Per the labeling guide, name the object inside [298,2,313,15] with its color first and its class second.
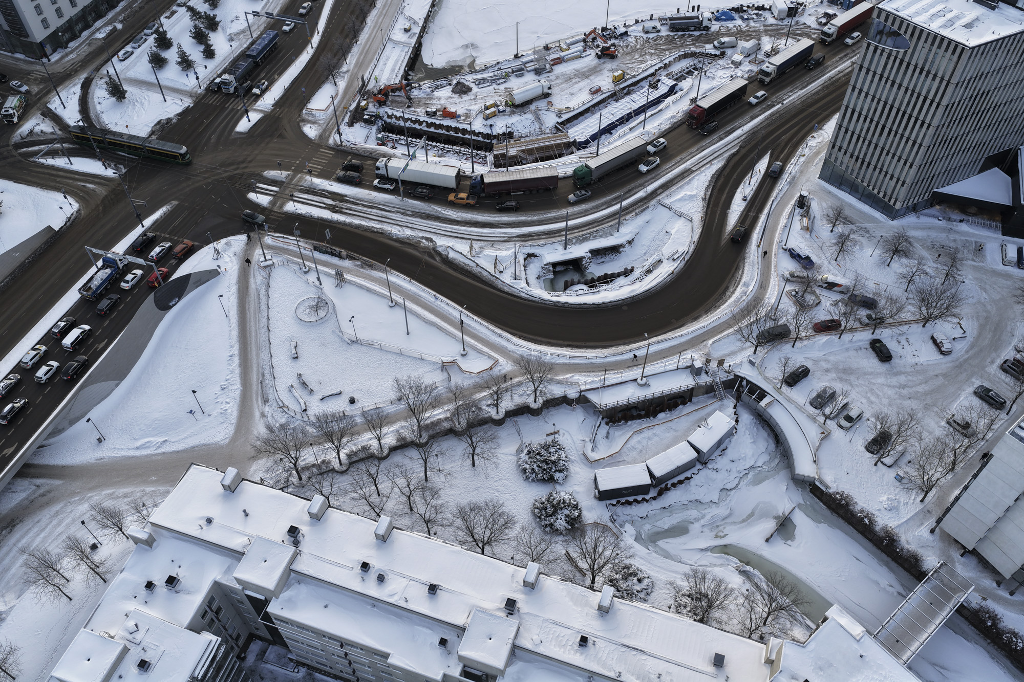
gray vehicle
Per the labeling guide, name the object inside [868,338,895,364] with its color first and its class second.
black car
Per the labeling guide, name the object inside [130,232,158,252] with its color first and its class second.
black car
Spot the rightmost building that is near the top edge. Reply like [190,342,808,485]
[819,0,1024,219]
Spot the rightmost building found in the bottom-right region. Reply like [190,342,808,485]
[930,412,1024,597]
